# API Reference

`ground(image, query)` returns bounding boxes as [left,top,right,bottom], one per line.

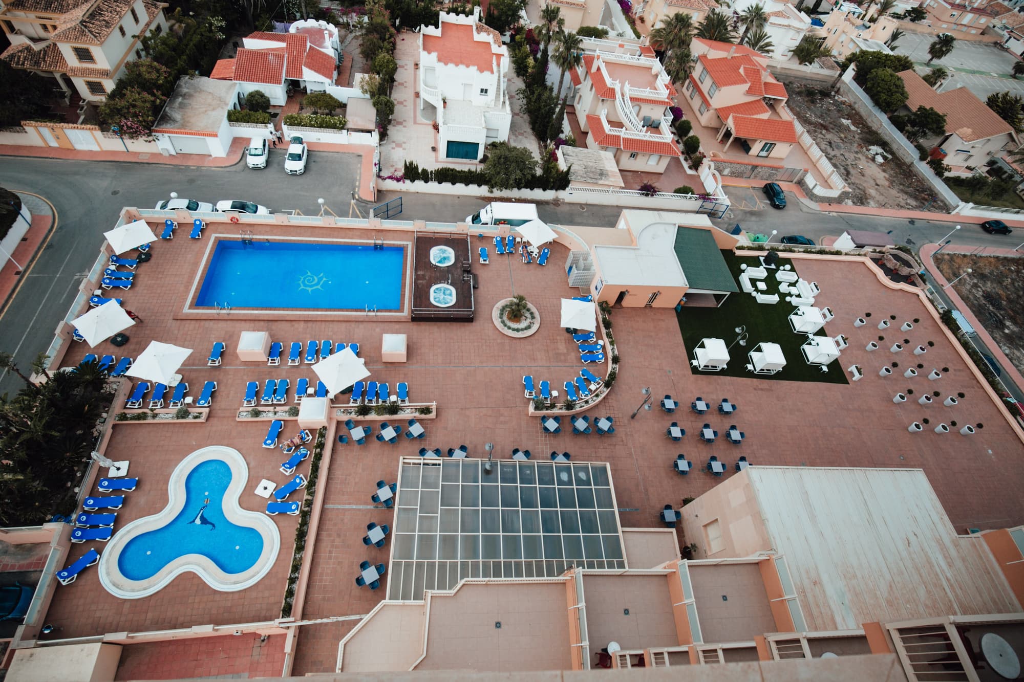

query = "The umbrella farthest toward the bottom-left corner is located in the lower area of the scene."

[91,452,117,468]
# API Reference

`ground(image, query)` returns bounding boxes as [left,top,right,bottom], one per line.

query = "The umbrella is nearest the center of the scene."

[560,298,596,335]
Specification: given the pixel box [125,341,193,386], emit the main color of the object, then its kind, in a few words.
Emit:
white umbrella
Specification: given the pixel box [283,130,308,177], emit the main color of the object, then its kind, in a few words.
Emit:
white car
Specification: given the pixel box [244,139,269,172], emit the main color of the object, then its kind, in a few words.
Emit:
white car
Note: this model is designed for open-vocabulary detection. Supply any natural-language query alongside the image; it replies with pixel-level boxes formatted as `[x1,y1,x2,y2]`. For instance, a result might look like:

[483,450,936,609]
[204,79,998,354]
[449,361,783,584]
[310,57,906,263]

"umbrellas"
[560,298,596,335]
[71,299,136,349]
[125,341,193,386]
[104,219,158,261]
[515,218,558,248]
[311,348,371,398]
[91,452,117,468]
